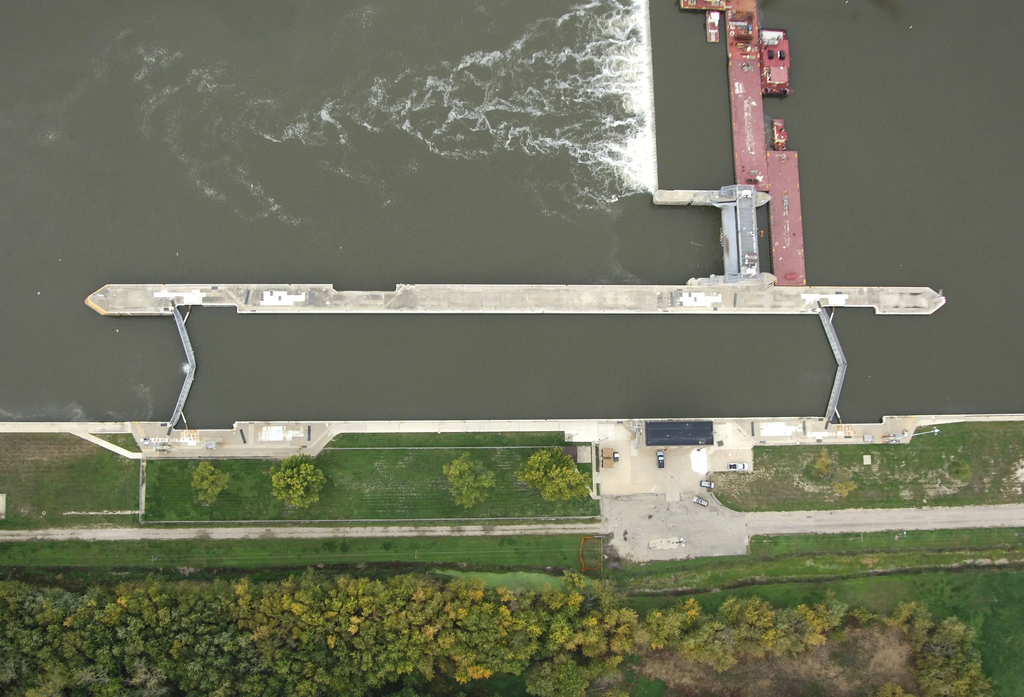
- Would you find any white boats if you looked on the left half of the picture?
No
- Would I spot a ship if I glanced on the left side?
No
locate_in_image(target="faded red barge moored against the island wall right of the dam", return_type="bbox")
[766,151,806,286]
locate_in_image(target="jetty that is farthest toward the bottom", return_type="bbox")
[683,272,776,291]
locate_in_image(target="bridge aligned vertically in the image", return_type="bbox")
[732,183,760,281]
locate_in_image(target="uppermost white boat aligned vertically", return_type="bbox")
[705,10,721,44]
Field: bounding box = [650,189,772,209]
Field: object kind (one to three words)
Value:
pier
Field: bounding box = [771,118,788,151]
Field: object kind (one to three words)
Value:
boat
